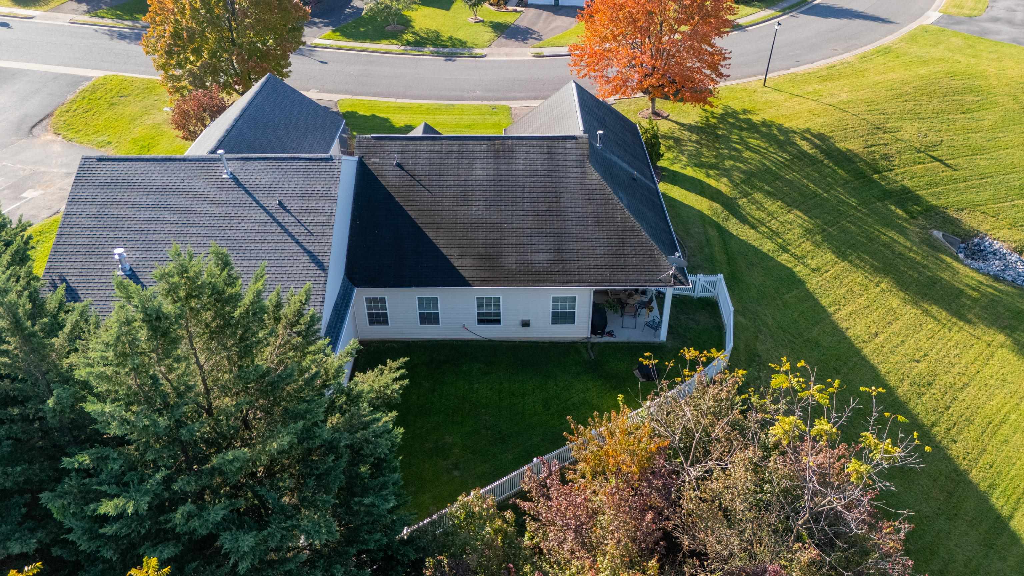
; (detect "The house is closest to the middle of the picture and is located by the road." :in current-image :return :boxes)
[345,74,695,341]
